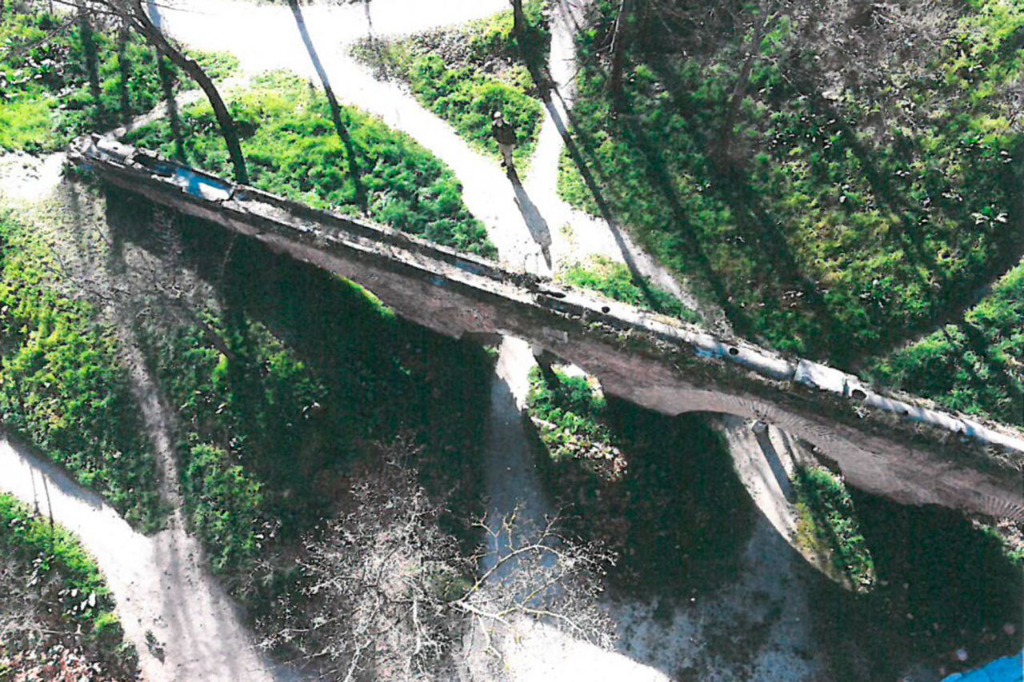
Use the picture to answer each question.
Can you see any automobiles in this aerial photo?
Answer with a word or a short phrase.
No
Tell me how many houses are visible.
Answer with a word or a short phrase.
0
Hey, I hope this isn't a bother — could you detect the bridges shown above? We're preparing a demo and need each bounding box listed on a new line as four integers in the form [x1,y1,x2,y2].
[64,127,1024,521]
